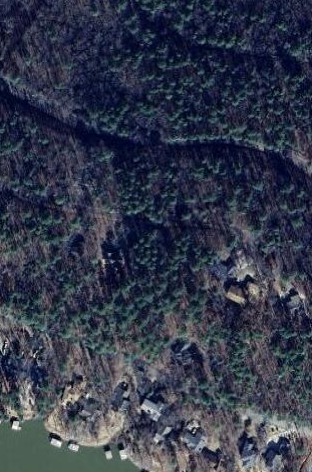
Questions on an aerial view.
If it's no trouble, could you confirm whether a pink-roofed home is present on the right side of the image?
No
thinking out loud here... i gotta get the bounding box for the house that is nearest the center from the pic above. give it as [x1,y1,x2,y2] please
[104,244,123,265]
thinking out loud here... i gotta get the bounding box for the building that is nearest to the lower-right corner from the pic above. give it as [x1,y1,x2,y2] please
[260,440,293,467]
